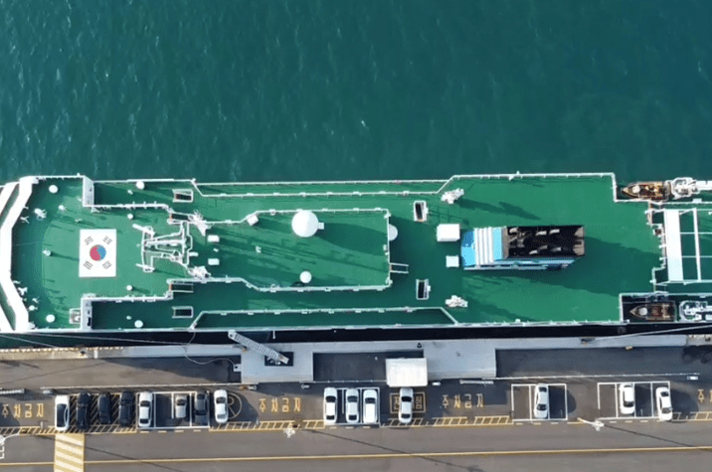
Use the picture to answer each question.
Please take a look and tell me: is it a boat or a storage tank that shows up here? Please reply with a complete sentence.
It is a boat that can be seen here.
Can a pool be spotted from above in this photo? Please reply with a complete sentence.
No, the frame has no pool in it.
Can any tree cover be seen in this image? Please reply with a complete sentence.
No, the picture contains no tree cover.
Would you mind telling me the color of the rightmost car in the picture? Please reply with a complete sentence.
The rightmost car is white.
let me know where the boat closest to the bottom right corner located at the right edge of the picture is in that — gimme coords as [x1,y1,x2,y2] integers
[627,301,678,321]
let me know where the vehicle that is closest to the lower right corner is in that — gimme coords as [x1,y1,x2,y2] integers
[654,385,675,419]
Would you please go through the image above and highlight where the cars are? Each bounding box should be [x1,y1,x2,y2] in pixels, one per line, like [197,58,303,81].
[173,393,188,421]
[323,388,338,424]
[654,385,675,419]
[214,389,229,424]
[398,388,414,423]
[362,388,380,424]
[117,392,135,426]
[54,395,71,431]
[618,382,637,416]
[192,389,209,426]
[344,389,360,422]
[73,393,92,429]
[533,384,551,419]
[138,391,155,427]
